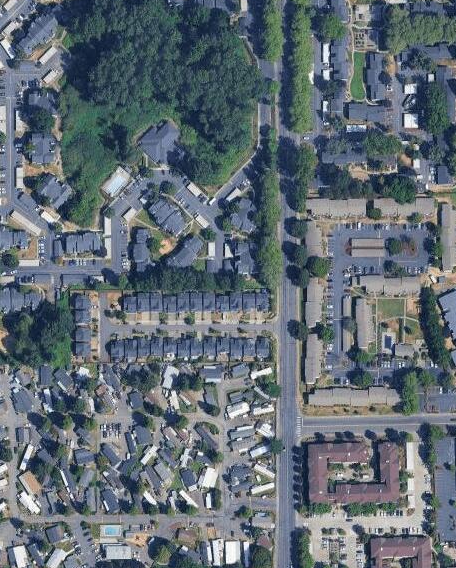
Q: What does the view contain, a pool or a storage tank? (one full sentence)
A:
Visible in the photo is a pool.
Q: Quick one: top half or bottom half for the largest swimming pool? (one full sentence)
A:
Seen from above, the largest swimming pool lies in the top half of the view.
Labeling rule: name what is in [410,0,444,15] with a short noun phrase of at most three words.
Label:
building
